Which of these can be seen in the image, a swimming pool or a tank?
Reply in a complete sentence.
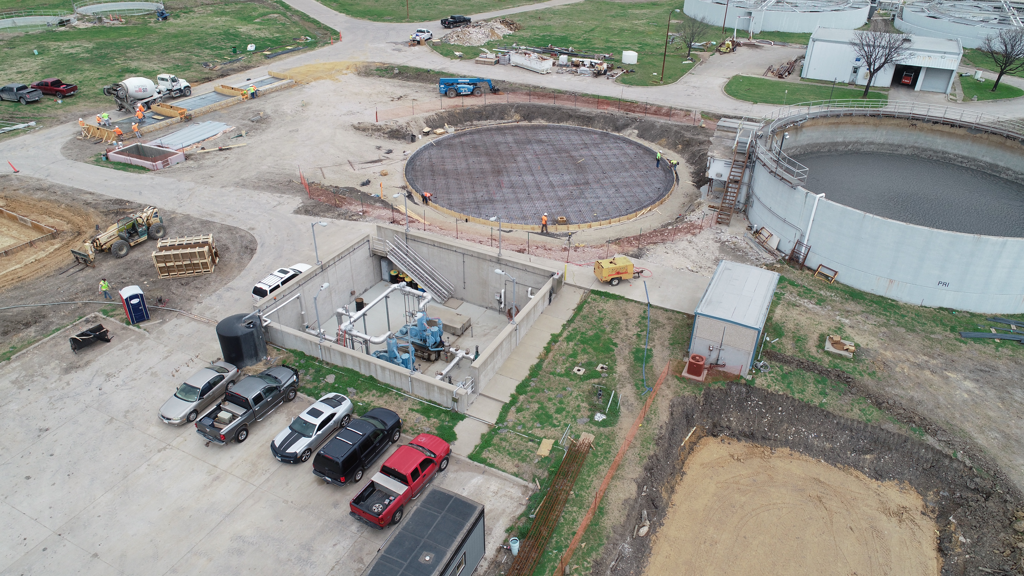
Of the two, only a tank appears.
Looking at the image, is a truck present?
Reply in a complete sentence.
Yes, there's a truck down there.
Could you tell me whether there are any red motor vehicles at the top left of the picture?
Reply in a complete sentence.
Yes, there is a red motor vehicle at the top left of the picture.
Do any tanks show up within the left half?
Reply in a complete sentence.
Yes, there is a tank within the left half.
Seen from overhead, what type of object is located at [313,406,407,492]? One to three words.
car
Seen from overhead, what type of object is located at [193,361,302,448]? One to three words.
truck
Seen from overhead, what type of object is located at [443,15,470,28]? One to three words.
vehicle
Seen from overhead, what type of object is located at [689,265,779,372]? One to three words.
shed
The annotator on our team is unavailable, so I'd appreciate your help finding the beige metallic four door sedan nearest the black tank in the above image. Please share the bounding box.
[151,360,243,431]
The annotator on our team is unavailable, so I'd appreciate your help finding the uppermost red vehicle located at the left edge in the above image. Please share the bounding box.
[32,80,77,98]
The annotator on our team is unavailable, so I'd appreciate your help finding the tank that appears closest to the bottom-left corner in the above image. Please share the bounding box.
[213,304,273,369]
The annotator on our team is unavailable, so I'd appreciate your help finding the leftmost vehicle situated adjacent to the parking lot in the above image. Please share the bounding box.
[69,204,164,274]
